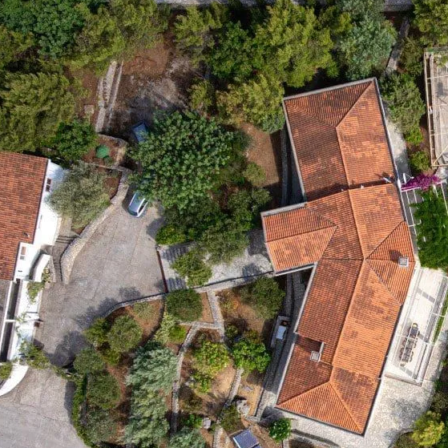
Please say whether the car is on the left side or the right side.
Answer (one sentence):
You can find the car on the left side of the picture.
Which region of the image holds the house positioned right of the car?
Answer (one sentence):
The house positioned right of the car is in the right part of the image.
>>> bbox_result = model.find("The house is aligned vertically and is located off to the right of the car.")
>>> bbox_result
[260,77,415,434]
